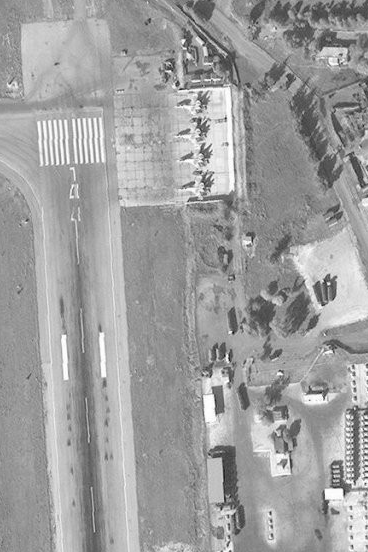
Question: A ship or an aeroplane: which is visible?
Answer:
aeroplane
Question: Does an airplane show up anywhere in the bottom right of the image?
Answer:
No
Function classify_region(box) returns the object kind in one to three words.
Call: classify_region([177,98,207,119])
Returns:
airplane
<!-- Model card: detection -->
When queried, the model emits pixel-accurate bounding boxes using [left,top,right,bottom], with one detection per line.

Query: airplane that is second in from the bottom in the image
[181,152,210,173]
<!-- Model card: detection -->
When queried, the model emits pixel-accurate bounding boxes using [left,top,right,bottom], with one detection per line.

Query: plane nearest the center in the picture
[181,178,211,199]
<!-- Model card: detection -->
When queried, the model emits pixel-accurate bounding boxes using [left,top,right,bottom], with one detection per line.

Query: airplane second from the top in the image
[179,125,208,146]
